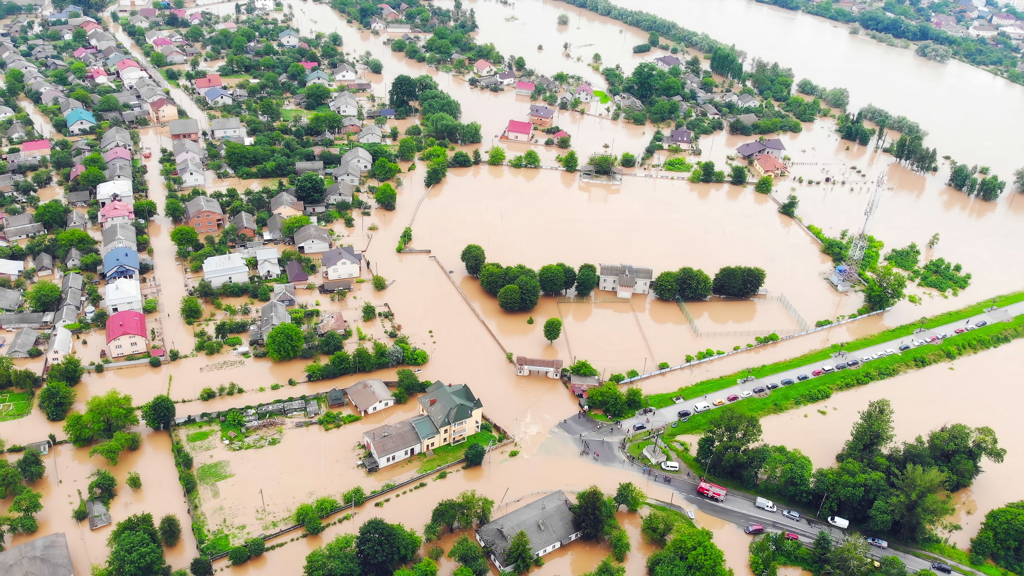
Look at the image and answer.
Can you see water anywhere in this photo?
Yes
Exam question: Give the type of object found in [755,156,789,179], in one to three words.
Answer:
house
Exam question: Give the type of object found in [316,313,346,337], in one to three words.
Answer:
shed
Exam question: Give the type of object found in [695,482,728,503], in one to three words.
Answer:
truck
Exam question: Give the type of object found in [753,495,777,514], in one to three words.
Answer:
vehicle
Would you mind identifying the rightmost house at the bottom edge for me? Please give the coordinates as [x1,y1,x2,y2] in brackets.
[472,495,580,575]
